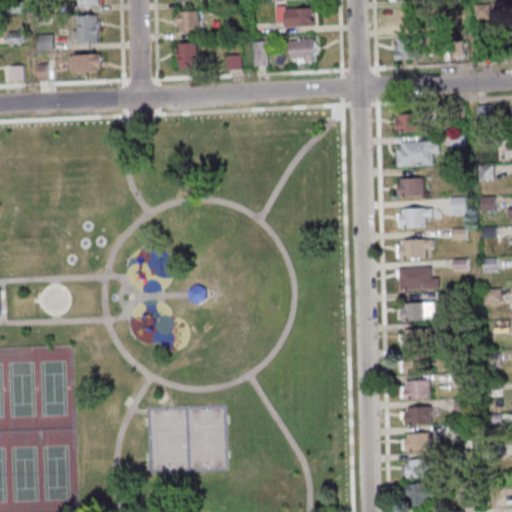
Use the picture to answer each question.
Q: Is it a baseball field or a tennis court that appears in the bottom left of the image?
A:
tennis court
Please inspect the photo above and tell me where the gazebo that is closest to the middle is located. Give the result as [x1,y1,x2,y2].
[188,284,207,305]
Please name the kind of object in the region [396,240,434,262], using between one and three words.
house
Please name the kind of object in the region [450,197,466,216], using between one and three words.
building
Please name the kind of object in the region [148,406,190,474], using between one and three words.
basketball court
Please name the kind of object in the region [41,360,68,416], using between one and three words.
tennis court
